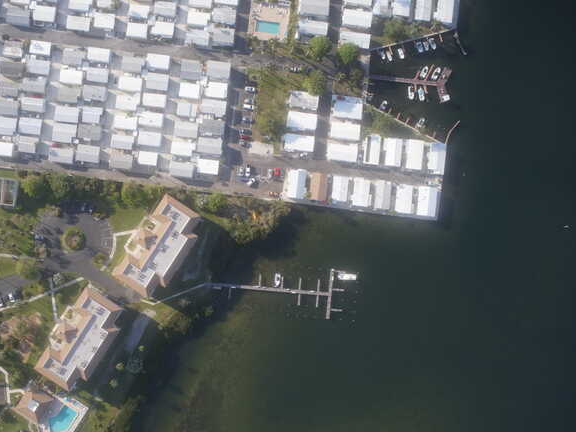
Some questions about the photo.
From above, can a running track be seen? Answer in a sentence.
No, no running track is visible in the view.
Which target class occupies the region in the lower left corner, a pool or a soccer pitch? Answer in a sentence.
Looking in the lower left corner, you will find a pool.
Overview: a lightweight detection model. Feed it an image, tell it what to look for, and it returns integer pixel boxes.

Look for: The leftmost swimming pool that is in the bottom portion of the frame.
[36,396,87,432]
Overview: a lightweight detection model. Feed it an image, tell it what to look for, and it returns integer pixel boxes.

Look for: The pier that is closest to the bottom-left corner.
[203,269,345,320]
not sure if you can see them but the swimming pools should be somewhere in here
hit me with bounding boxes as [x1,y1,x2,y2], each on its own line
[36,396,87,432]
[249,0,290,39]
